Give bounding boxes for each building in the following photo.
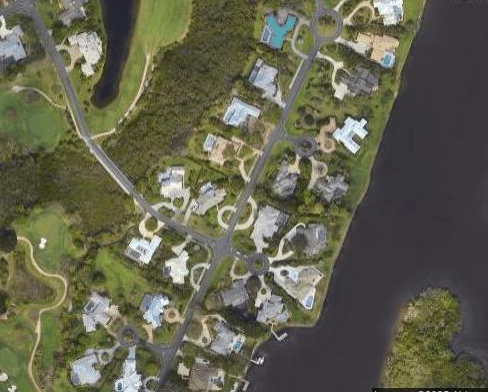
[297,224,327,257]
[140,292,169,328]
[210,319,245,356]
[275,160,300,194]
[342,67,379,94]
[357,32,398,68]
[68,352,101,385]
[221,279,249,307]
[270,265,321,309]
[224,98,262,127]
[67,29,105,79]
[374,0,404,25]
[334,117,369,153]
[59,0,87,25]
[160,165,184,197]
[190,359,224,392]
[253,206,288,243]
[319,175,347,202]
[126,235,160,263]
[82,292,110,332]
[165,251,188,283]
[249,59,278,97]
[189,183,225,214]
[115,359,144,392]
[0,28,27,66]
[257,294,289,324]
[261,15,299,49]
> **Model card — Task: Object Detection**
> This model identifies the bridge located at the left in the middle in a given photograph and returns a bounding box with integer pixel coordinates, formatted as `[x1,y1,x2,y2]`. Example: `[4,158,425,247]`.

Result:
[87,139,136,196]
